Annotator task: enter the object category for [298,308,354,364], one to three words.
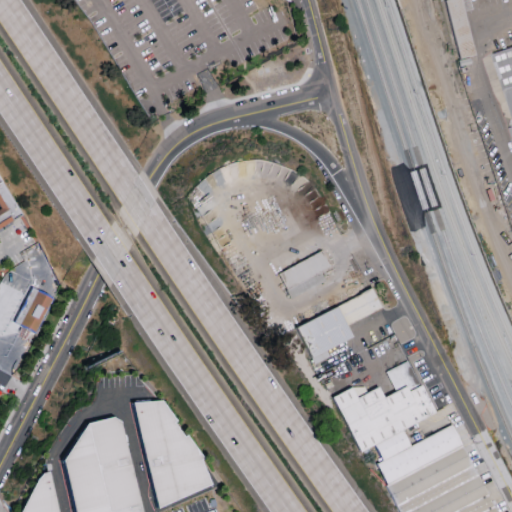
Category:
building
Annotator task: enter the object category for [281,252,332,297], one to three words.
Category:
shed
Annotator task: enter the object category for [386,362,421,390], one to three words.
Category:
building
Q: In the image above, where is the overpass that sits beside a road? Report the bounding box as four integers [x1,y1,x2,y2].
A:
[90,167,166,287]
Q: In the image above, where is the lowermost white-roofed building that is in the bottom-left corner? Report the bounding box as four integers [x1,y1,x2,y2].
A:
[23,472,60,512]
